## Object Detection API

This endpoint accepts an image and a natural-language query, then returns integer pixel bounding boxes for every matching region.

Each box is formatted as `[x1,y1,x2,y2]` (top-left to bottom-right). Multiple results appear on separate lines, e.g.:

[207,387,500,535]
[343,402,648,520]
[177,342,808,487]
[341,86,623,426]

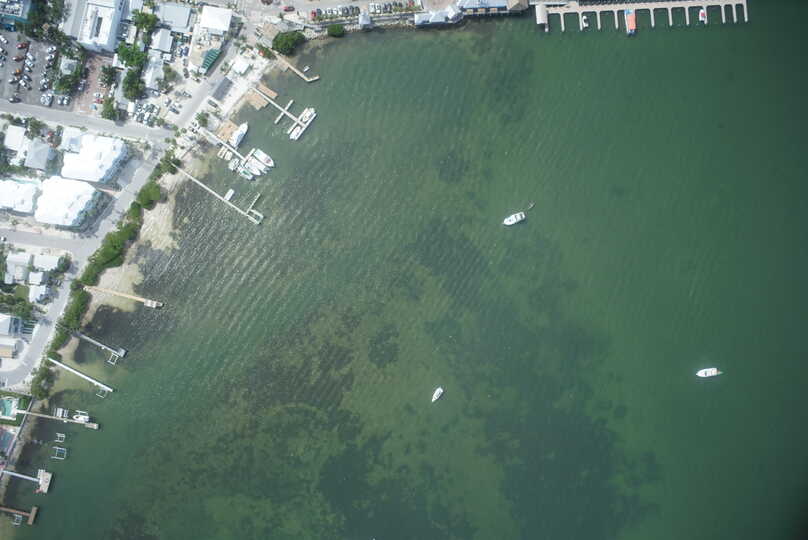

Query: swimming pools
[0,428,16,464]
[0,395,15,419]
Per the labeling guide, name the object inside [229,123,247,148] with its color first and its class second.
white boat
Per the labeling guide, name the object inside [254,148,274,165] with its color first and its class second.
white boat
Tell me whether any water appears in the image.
Yes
